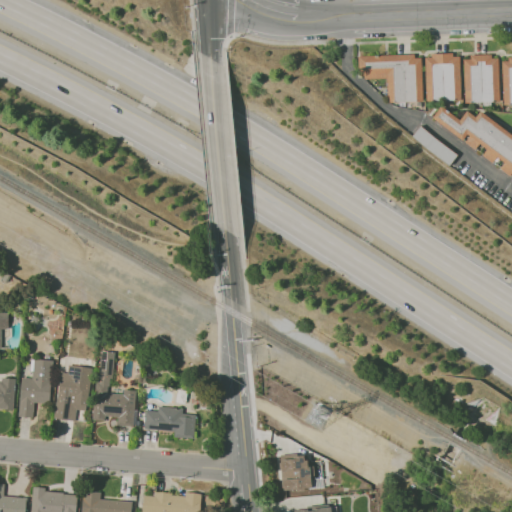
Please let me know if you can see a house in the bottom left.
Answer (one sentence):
Yes, there is a house in the bottom left.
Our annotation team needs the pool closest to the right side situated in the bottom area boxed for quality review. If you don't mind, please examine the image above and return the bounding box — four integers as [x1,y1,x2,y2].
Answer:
[148,388,172,403]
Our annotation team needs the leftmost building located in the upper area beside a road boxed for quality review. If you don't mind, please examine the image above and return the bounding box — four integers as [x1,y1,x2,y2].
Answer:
[359,55,424,103]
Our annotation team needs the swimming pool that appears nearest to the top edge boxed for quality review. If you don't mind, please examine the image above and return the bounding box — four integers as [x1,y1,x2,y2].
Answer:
[9,322,21,349]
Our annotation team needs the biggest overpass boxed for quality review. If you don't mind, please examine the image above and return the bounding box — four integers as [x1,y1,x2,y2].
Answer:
[194,48,246,260]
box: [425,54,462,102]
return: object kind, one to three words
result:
building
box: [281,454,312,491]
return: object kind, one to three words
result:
house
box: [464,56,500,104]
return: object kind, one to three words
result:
building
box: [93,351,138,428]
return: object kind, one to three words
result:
house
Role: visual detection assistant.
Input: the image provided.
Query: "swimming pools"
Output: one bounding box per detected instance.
[9,322,21,349]
[123,360,133,378]
[148,388,172,403]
